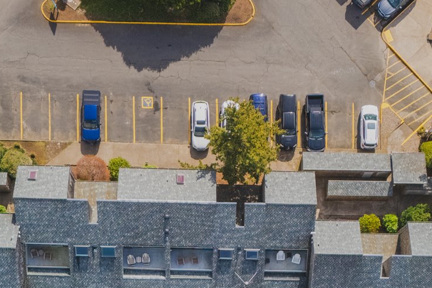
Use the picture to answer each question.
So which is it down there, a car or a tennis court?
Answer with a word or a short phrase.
car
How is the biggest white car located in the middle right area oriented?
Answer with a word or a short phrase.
from top to bottom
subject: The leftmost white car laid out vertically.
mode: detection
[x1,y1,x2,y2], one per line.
[188,102,211,153]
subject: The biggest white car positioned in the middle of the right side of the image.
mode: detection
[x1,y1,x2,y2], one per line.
[358,104,382,152]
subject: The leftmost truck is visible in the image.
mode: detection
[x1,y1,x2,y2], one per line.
[78,89,103,146]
